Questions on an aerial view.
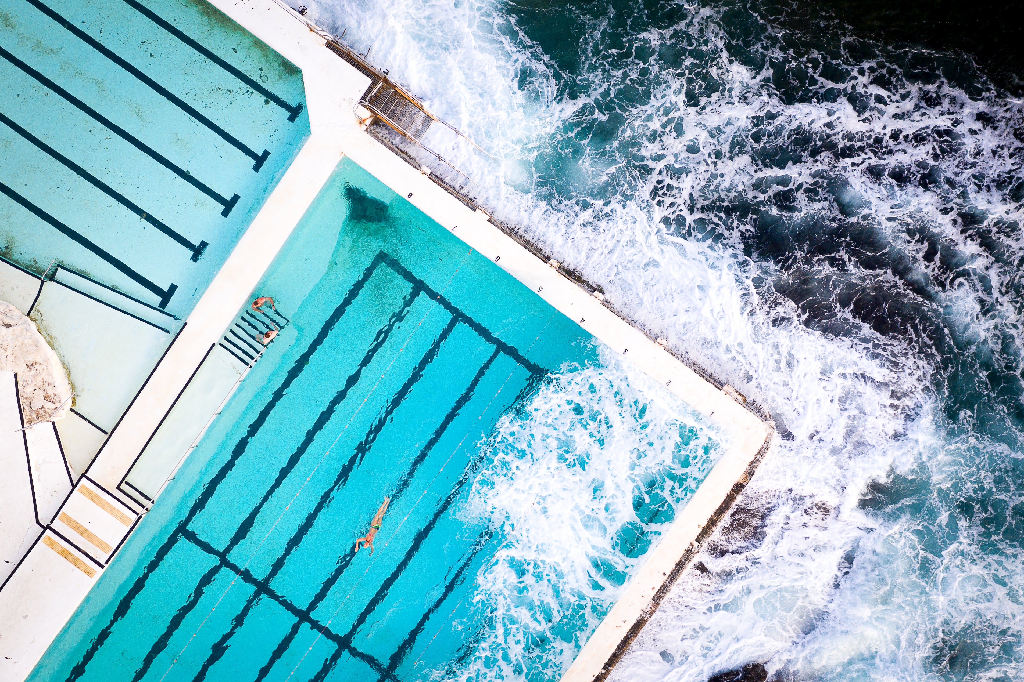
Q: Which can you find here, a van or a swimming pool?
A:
swimming pool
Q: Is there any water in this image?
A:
Yes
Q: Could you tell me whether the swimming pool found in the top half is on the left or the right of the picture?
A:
left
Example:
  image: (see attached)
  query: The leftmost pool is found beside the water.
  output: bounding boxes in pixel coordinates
[0,0,311,433]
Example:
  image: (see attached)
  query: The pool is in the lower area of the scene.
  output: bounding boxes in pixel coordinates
[27,159,732,682]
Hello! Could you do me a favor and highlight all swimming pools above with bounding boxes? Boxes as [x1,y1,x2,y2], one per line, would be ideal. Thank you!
[27,159,732,682]
[0,0,311,433]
